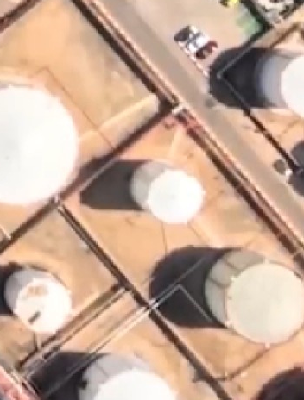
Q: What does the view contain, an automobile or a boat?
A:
automobile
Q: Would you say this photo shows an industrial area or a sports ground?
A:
industrial area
